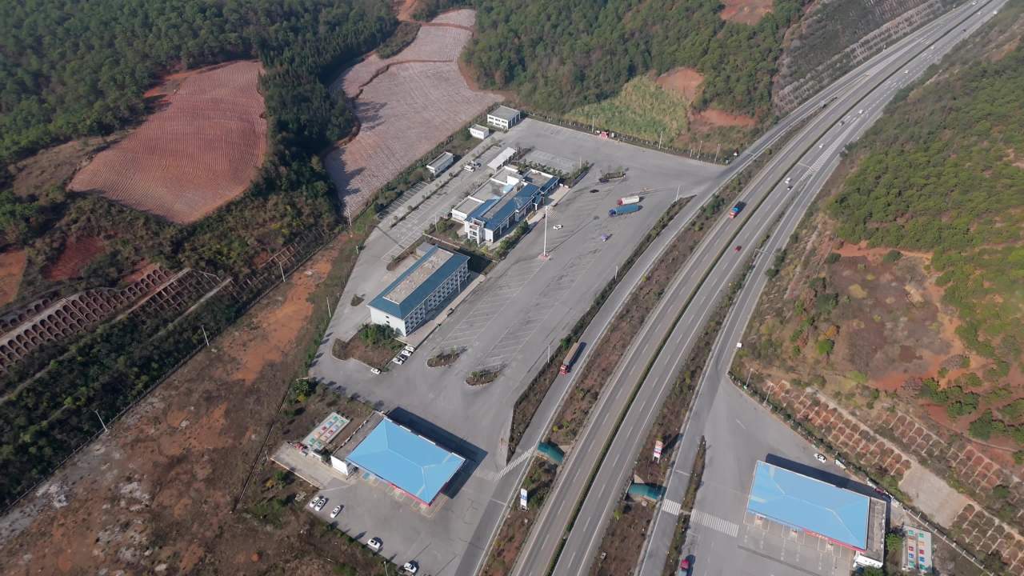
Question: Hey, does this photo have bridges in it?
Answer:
No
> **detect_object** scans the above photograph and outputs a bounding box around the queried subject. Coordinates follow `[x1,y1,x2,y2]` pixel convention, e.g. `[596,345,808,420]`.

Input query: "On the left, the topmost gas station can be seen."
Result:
[330,412,468,507]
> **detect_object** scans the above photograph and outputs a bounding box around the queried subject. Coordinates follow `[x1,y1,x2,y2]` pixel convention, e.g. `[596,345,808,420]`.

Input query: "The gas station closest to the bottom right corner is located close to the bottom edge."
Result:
[748,461,887,576]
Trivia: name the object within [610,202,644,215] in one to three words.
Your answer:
vehicle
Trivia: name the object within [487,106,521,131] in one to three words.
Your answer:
building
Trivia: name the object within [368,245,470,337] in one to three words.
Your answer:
building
